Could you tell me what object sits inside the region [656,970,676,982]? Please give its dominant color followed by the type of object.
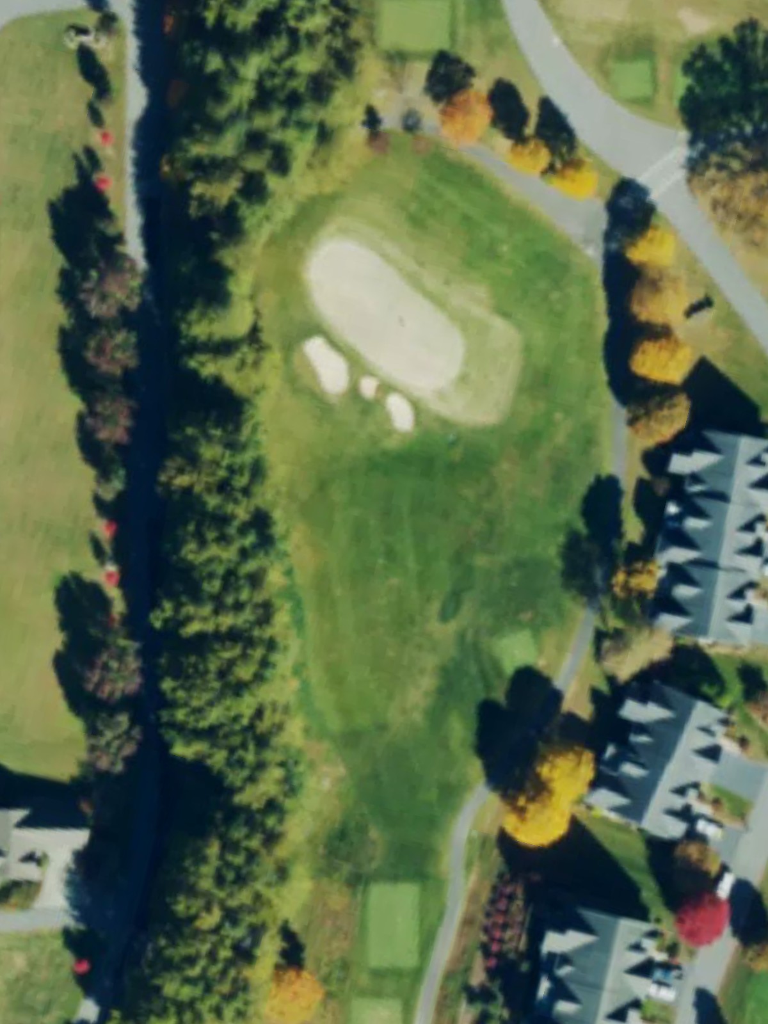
blue vehicle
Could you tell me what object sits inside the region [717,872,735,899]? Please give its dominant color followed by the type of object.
white vehicle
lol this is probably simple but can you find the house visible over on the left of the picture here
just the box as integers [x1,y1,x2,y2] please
[0,806,91,882]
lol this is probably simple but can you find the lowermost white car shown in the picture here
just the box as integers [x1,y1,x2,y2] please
[652,985,676,999]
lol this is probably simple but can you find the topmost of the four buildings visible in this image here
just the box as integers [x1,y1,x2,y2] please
[656,432,768,652]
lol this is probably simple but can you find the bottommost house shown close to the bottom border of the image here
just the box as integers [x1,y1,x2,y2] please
[537,909,659,1024]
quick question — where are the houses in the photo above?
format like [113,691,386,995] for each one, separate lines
[537,909,659,1024]
[656,432,768,652]
[0,806,91,882]
[588,684,732,844]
